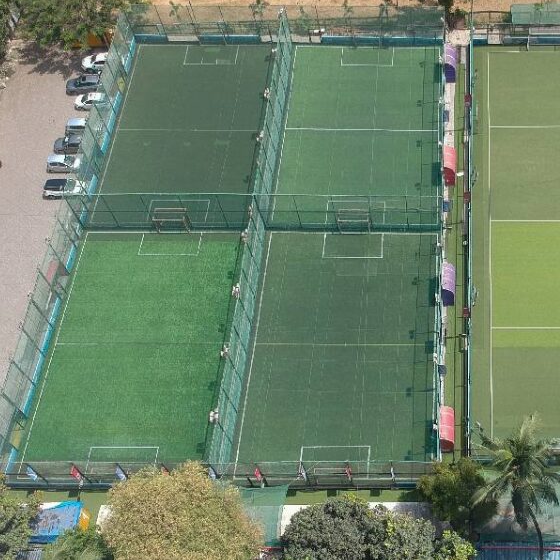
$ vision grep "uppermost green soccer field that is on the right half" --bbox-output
[266,41,442,230]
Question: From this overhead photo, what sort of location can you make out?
sports ground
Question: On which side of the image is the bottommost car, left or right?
left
